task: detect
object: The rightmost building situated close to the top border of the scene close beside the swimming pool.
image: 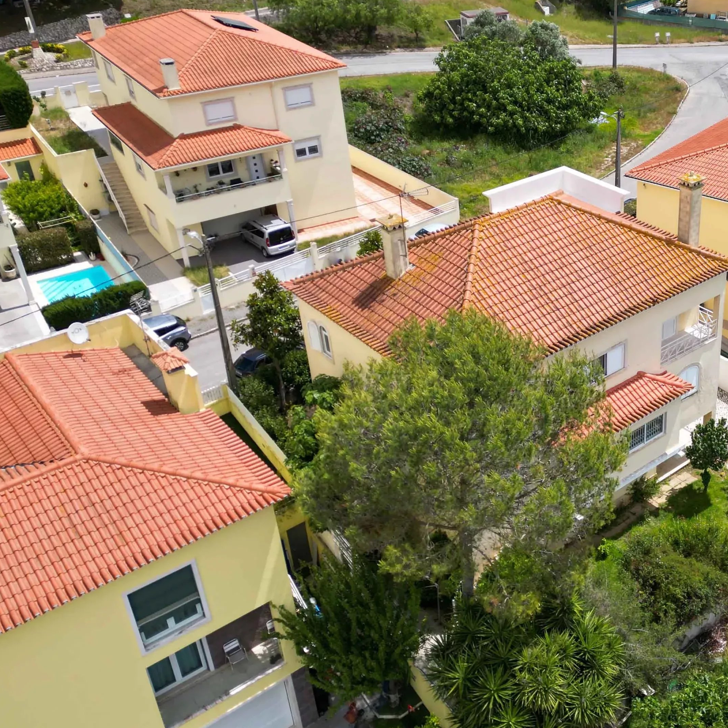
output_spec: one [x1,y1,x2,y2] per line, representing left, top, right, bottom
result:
[82,0,355,267]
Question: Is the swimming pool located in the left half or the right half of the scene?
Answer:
left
